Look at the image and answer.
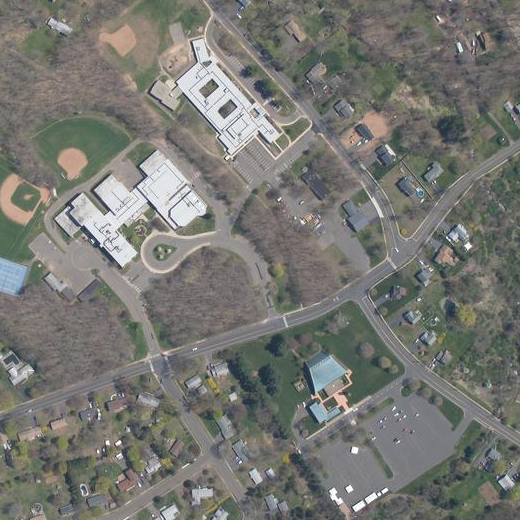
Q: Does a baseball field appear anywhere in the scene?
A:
Yes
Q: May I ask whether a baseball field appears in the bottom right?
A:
No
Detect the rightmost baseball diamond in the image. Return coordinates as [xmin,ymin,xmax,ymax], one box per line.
[31,116,131,184]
